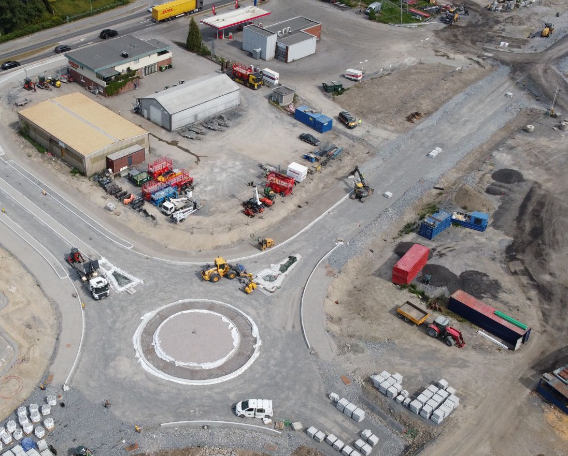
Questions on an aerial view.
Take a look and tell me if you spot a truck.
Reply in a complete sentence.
Yes, a truck can be made out from above.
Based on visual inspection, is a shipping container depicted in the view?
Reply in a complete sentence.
Yes, a shipping container can be made out from above.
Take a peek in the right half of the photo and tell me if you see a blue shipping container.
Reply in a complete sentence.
Yes, a blue shipping container is visible in the right half of the photo.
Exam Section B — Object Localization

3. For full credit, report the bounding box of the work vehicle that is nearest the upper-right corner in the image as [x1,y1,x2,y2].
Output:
[543,24,555,36]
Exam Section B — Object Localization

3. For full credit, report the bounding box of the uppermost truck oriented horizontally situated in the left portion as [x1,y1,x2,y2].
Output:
[153,0,207,21]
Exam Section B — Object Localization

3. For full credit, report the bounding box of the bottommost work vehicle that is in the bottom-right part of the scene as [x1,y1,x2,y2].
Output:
[432,320,474,352]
